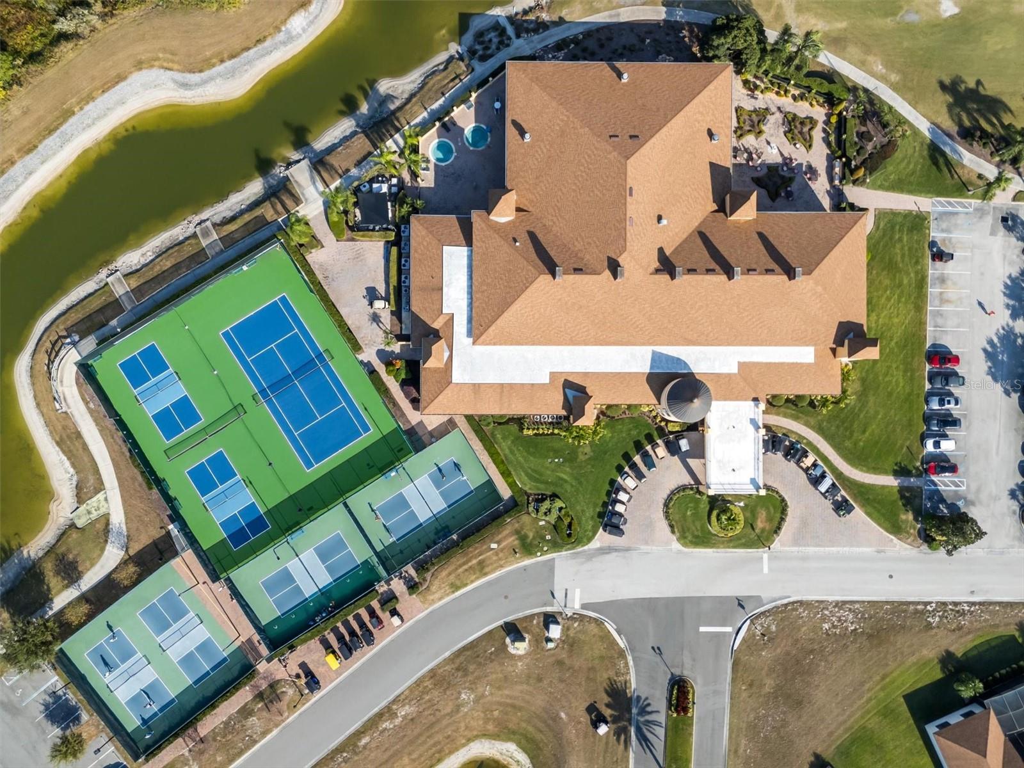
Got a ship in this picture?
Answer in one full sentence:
No, the photo shows no ship.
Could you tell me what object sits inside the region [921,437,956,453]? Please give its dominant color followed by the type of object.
white car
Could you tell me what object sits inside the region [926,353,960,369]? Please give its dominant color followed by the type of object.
red car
